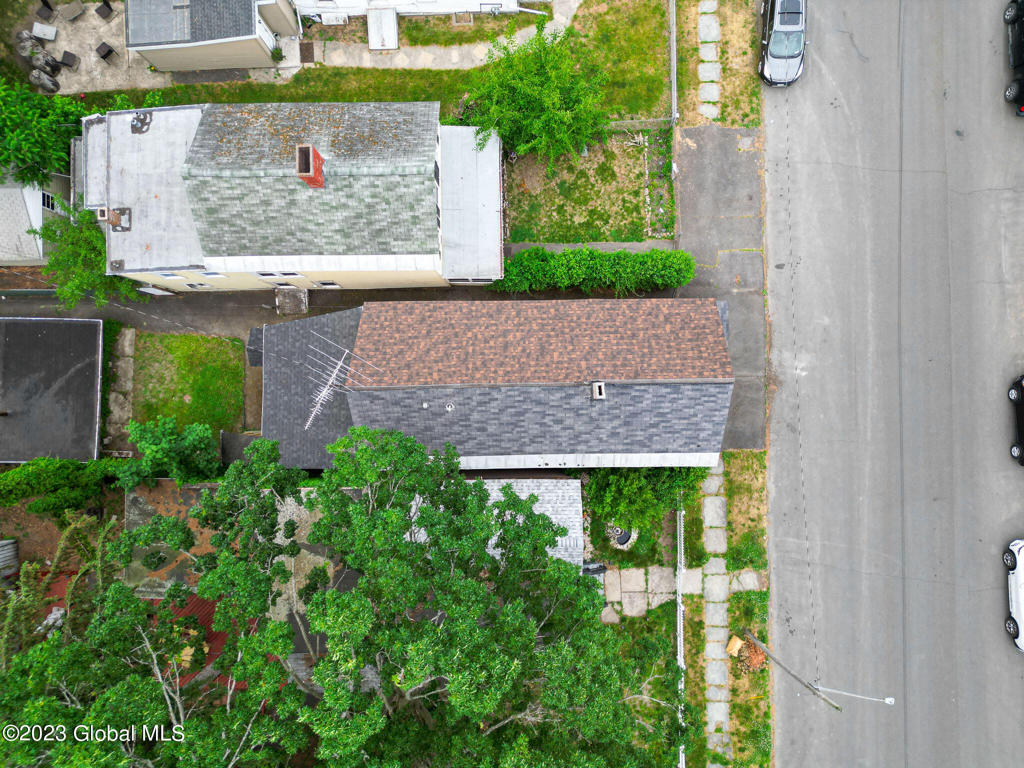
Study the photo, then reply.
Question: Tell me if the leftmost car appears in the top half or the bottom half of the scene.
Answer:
top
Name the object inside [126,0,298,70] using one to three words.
building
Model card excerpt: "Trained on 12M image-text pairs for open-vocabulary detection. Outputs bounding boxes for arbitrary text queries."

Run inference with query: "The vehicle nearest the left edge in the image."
[754,0,815,89]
